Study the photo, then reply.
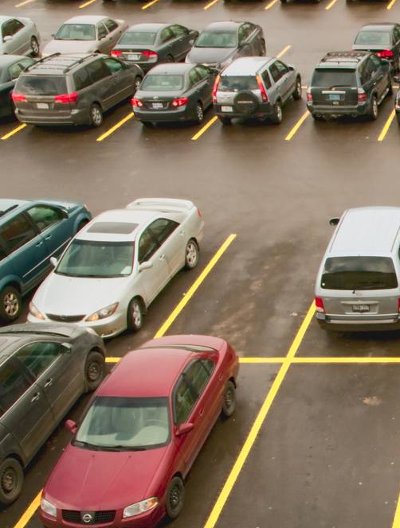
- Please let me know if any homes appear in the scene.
No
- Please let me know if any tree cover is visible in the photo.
No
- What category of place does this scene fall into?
parking lot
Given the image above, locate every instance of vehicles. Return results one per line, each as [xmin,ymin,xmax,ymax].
[41,15,128,63]
[16,52,141,128]
[308,52,392,122]
[212,57,301,124]
[315,205,400,335]
[31,200,205,337]
[131,64,217,124]
[111,23,197,71]
[351,22,400,70]
[0,335,107,488]
[185,17,265,72]
[0,200,86,319]
[0,58,34,99]
[42,340,240,528]
[0,16,43,61]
